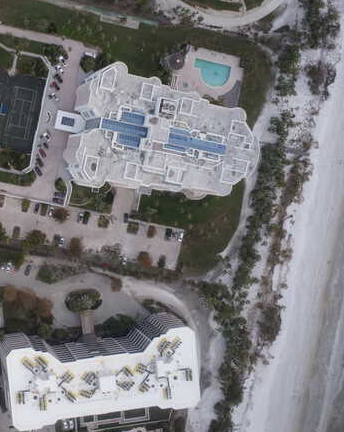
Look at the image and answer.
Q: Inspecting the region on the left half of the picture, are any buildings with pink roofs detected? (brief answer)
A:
No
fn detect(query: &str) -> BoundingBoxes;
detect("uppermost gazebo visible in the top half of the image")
[169,54,184,67]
